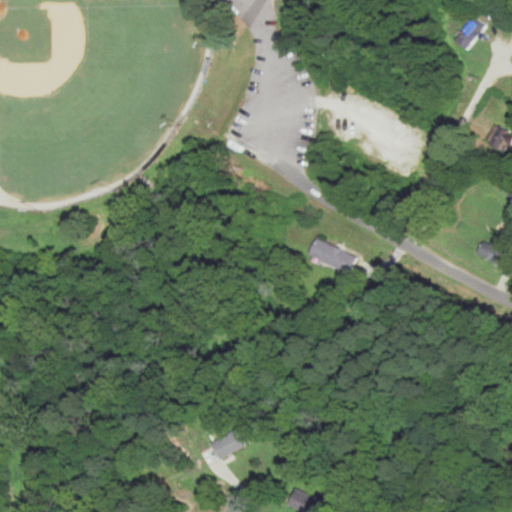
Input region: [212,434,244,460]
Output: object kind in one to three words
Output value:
house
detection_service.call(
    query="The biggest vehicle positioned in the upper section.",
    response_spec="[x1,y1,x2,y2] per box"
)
[226,140,246,154]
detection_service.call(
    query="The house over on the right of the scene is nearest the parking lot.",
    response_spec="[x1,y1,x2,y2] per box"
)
[310,237,358,272]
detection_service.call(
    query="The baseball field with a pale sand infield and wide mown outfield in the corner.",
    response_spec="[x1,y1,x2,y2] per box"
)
[0,0,208,202]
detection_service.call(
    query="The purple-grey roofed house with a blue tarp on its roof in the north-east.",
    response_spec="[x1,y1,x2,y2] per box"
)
[452,16,492,53]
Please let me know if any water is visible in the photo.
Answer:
No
